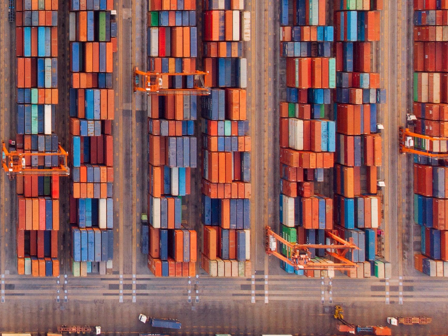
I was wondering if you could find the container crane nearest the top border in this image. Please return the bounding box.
[133,66,211,95]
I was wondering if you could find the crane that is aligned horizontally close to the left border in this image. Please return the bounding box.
[1,141,71,174]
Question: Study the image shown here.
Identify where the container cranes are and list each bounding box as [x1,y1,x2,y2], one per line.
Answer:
[264,226,353,270]
[133,66,211,95]
[1,141,71,174]
[399,126,448,160]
